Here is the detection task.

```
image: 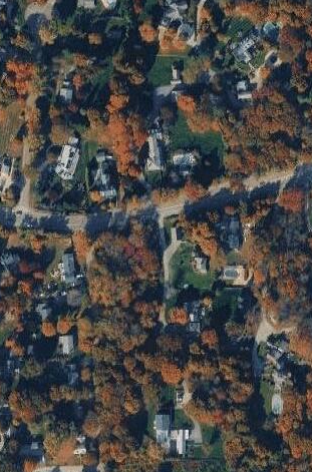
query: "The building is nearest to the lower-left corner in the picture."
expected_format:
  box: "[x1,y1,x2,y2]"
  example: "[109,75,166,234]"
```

[20,442,45,463]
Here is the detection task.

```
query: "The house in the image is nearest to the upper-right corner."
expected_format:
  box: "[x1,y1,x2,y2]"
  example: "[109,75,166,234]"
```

[232,33,261,63]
